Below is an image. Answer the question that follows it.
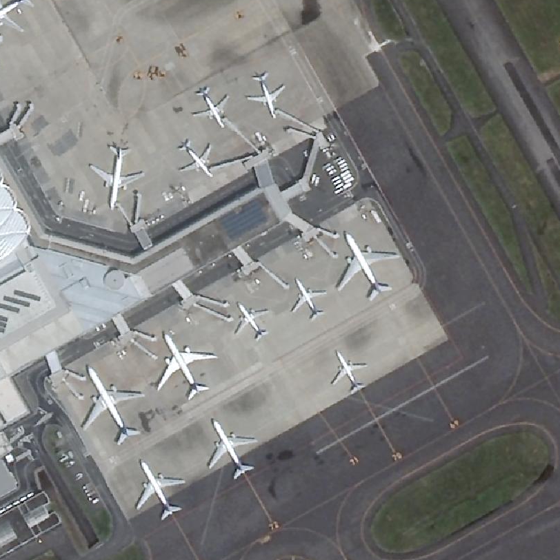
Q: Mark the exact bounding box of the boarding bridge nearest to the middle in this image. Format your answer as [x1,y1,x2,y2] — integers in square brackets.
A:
[234,247,290,291]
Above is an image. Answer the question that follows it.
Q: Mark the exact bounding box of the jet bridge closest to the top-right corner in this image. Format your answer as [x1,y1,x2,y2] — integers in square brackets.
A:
[275,109,330,148]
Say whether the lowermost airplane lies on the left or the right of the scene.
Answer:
left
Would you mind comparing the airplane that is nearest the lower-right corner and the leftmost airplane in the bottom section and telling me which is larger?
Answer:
the leftmost airplane in the bottom section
